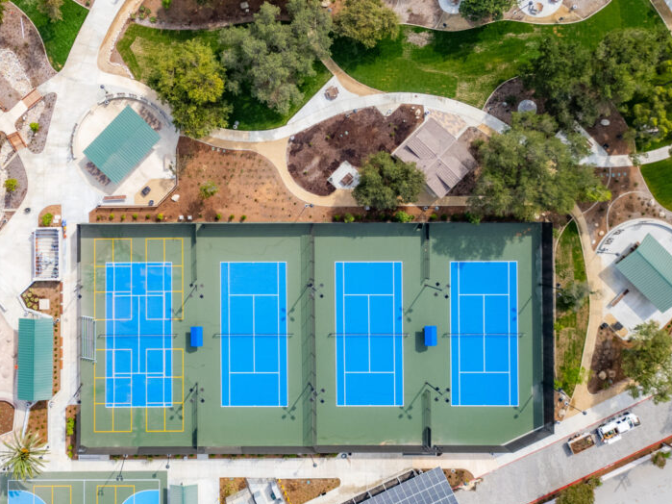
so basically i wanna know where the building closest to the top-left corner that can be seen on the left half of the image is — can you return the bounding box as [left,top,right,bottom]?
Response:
[83,104,160,184]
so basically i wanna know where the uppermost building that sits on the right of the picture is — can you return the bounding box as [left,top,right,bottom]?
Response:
[393,118,477,198]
